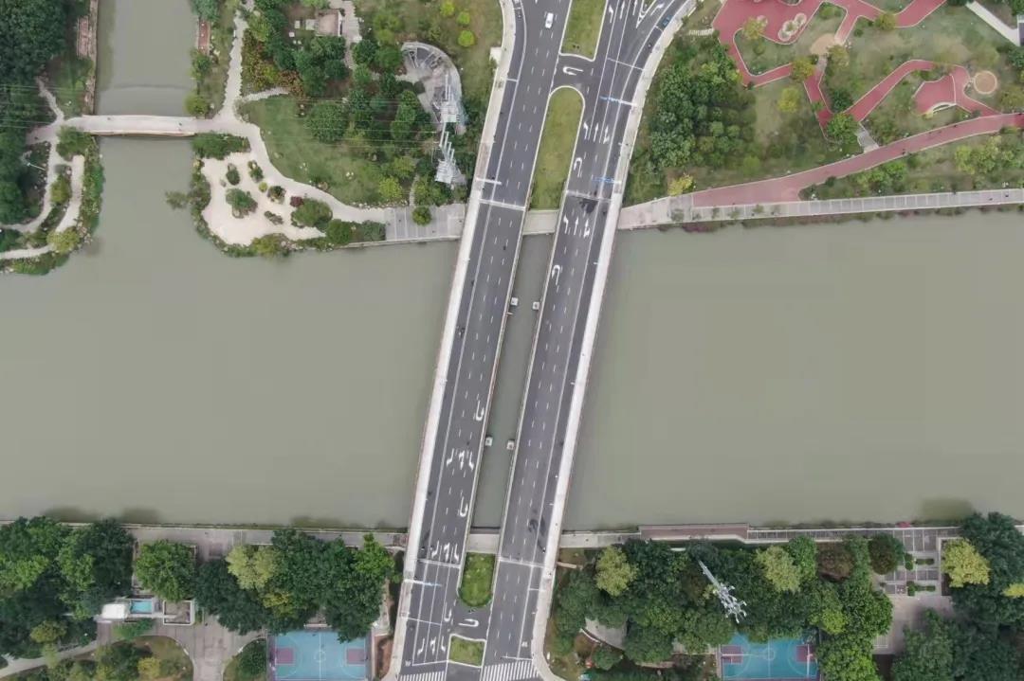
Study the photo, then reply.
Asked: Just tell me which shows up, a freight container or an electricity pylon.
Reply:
electricity pylon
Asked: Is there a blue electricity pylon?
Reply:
No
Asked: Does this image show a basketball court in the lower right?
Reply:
Yes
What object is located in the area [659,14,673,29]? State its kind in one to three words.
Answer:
car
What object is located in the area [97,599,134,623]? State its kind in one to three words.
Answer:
building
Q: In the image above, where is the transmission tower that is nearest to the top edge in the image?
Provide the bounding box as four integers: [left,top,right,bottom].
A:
[440,74,469,140]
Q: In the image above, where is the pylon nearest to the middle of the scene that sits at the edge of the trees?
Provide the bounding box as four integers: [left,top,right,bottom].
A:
[435,122,470,188]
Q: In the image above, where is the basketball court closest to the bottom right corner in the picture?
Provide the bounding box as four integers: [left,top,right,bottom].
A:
[720,627,822,681]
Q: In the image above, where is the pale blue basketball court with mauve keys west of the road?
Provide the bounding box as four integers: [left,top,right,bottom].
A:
[268,626,370,681]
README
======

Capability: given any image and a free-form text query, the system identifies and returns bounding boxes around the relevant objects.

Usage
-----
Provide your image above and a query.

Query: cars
[659,14,673,29]
[544,11,553,27]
